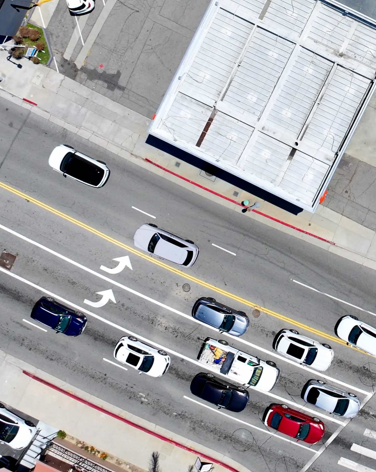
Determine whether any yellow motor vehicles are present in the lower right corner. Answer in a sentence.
No, I see no yellow motor vehicle in the lower right corner.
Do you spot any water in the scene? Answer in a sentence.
No, water can't be seen anywhere here.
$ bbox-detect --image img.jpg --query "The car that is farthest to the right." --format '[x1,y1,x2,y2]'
[334,315,376,357]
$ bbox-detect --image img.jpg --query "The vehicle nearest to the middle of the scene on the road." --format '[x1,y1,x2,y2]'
[137,223,197,267]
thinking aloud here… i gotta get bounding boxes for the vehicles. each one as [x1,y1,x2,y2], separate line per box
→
[334,315,376,357]
[137,223,197,267]
[190,370,250,412]
[27,296,90,338]
[273,328,334,371]
[191,296,250,337]
[301,377,360,420]
[66,0,96,13]
[265,402,323,444]
[0,406,35,448]
[113,336,171,376]
[50,145,111,188]
[201,338,275,389]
